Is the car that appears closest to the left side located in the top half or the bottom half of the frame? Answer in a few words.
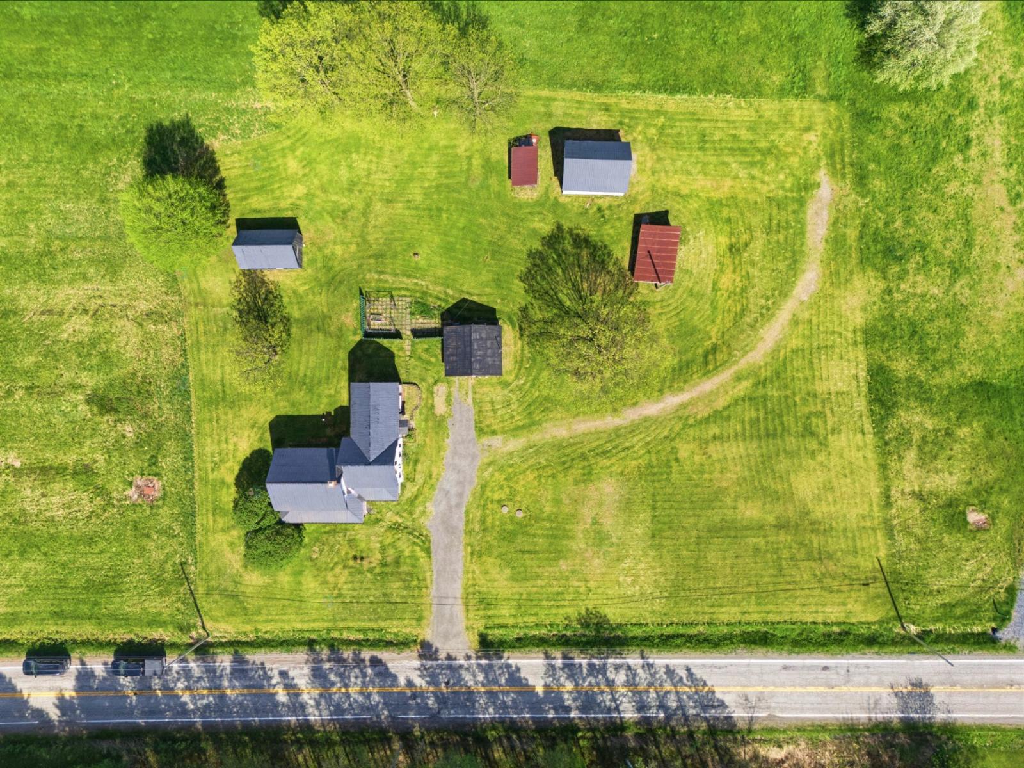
bottom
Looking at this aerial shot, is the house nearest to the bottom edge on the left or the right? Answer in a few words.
left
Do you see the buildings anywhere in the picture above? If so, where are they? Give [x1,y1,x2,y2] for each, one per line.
[633,224,682,285]
[563,140,633,197]
[231,229,303,271]
[266,383,418,523]
[511,145,538,189]
[442,326,501,377]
